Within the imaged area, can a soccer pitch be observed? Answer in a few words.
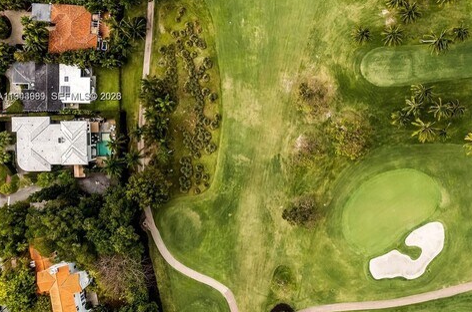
No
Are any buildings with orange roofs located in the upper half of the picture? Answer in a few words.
Yes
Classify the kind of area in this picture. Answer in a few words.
golf course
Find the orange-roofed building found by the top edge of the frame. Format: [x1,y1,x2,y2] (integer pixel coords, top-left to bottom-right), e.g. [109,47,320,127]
[32,2,103,53]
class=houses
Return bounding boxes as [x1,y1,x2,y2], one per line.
[10,62,98,110]
[32,2,103,53]
[29,245,95,312]
[11,116,96,178]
